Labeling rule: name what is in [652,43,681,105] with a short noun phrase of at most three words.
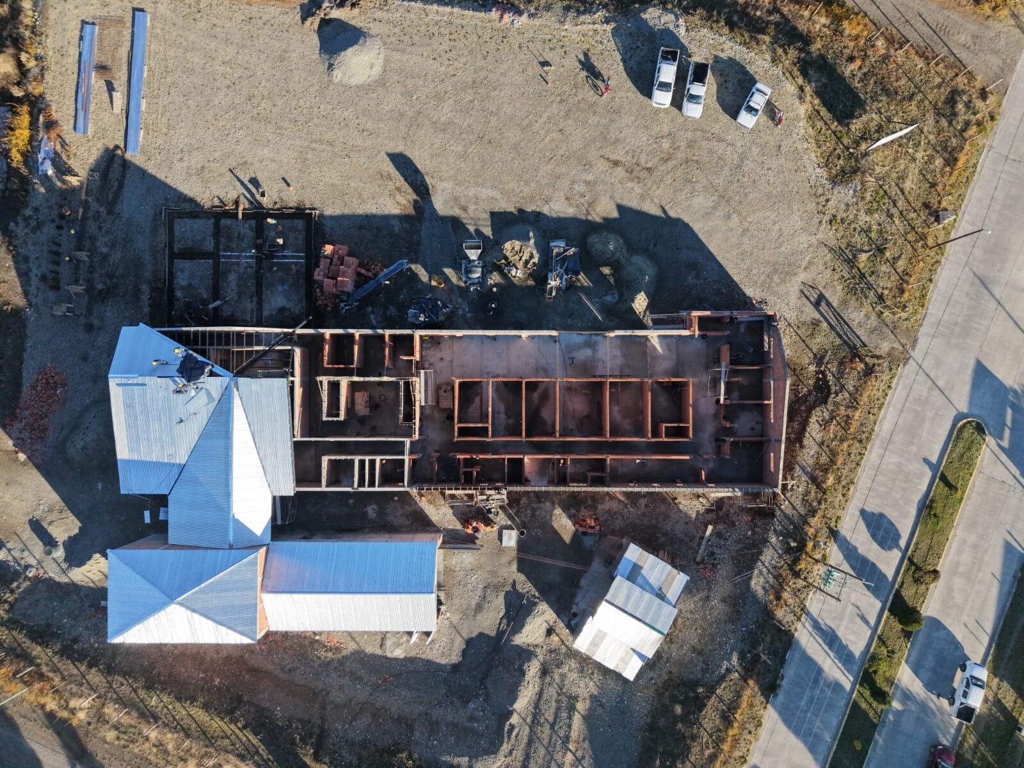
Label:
truck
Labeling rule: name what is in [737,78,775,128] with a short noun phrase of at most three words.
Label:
car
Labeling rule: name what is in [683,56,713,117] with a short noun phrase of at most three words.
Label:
truck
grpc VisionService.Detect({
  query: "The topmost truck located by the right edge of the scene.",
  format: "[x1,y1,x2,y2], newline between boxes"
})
[953,662,991,725]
